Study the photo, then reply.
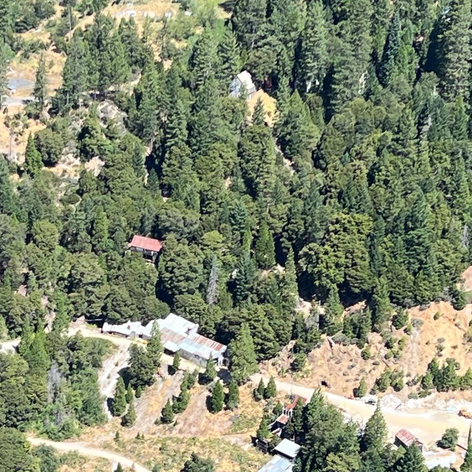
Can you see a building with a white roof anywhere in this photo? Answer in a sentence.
Yes, there's a building with a white roof here.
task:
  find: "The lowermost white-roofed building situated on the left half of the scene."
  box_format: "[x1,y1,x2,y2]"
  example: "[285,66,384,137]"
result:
[102,311,230,372]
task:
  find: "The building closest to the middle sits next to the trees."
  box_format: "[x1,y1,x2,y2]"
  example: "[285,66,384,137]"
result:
[129,234,164,263]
